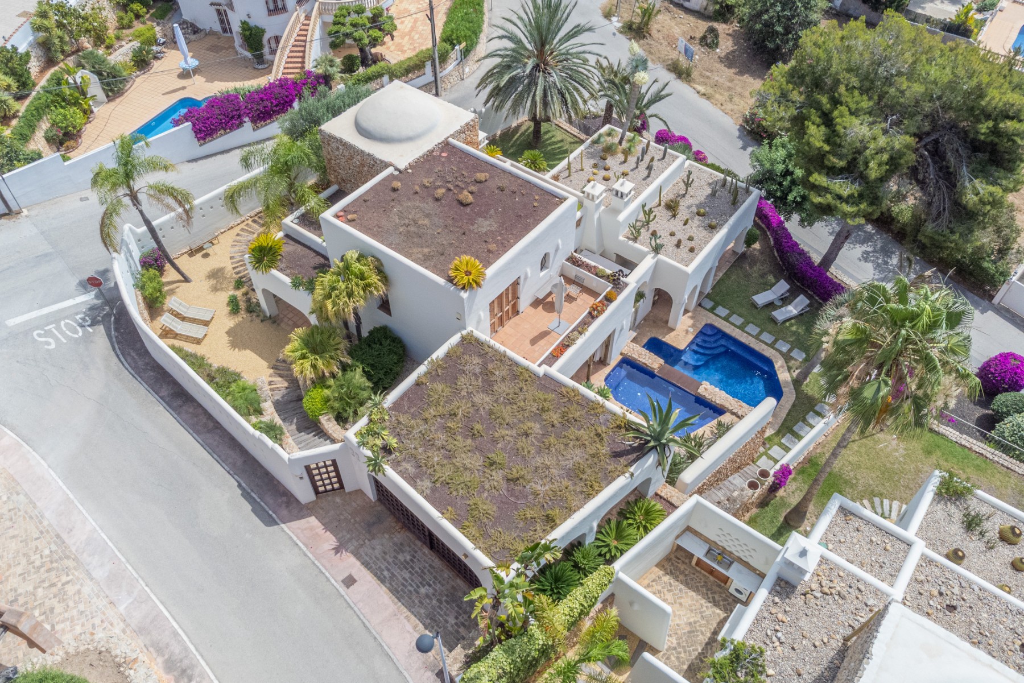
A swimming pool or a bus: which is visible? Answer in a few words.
swimming pool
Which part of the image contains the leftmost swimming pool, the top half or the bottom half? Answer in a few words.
top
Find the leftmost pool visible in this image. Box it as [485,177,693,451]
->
[127,96,233,140]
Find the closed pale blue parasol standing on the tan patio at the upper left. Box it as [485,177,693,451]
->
[174,23,195,83]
